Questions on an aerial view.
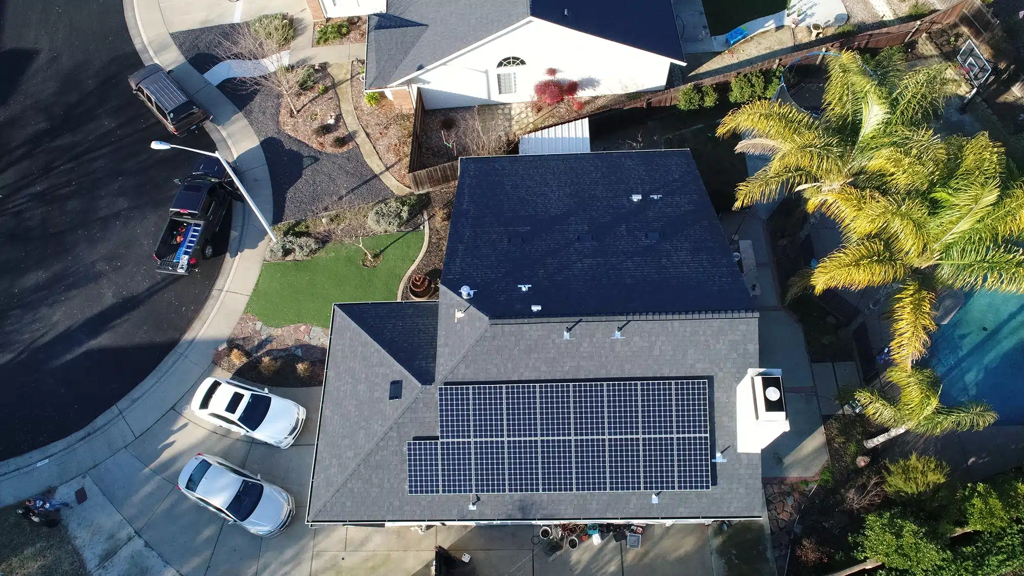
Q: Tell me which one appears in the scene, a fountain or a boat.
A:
fountain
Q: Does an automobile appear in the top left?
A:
Yes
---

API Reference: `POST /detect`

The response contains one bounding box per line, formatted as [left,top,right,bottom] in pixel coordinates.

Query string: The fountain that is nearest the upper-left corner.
[405,272,434,298]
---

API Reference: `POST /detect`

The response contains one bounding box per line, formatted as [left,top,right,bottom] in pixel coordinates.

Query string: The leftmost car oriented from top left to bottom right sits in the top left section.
[131,64,215,144]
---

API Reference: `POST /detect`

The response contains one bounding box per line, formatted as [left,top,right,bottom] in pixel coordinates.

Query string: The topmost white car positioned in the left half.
[189,386,307,455]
